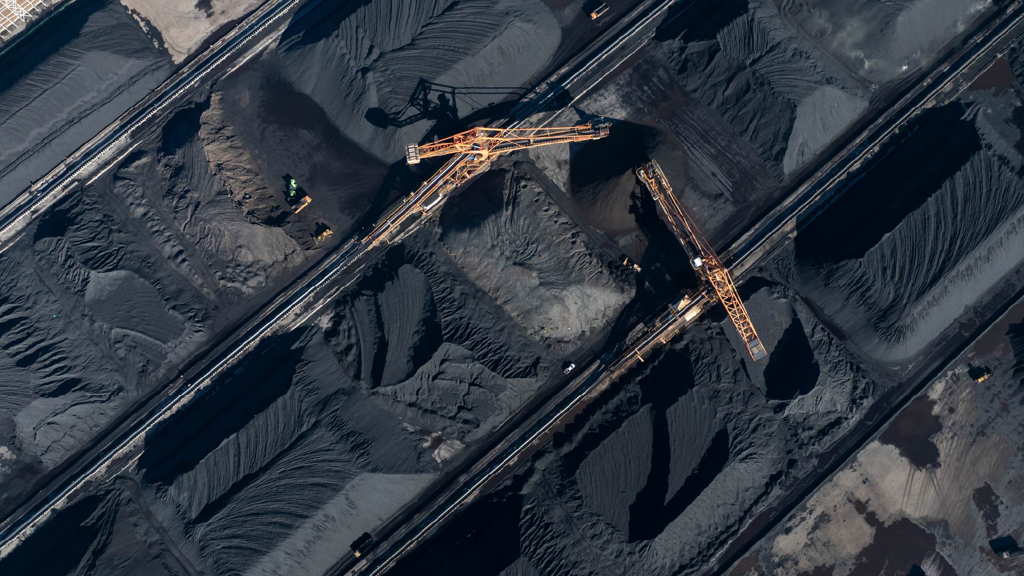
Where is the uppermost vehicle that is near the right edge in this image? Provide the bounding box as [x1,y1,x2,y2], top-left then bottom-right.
[974,372,992,385]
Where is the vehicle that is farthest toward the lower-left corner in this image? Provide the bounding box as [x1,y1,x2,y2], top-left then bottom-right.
[353,537,374,555]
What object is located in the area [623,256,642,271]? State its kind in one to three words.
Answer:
work vehicle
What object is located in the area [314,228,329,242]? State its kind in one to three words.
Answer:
work vehicle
